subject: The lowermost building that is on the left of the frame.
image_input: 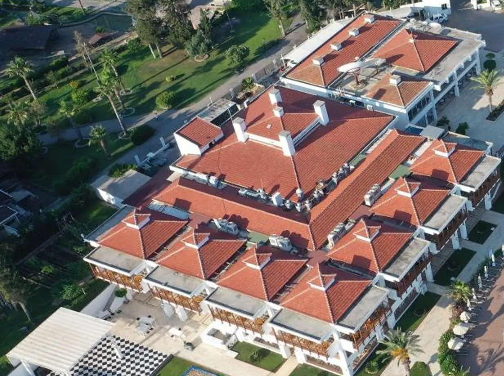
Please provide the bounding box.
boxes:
[8,308,127,376]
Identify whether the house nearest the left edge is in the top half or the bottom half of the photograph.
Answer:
top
